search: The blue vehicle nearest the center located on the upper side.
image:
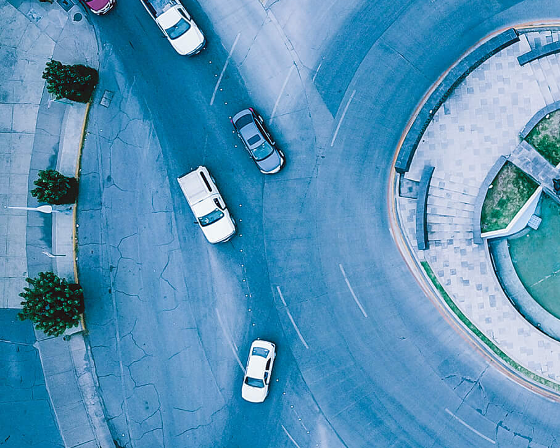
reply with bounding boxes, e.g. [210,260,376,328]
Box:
[231,104,285,176]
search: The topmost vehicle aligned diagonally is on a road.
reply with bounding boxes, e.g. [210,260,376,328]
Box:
[141,0,205,56]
